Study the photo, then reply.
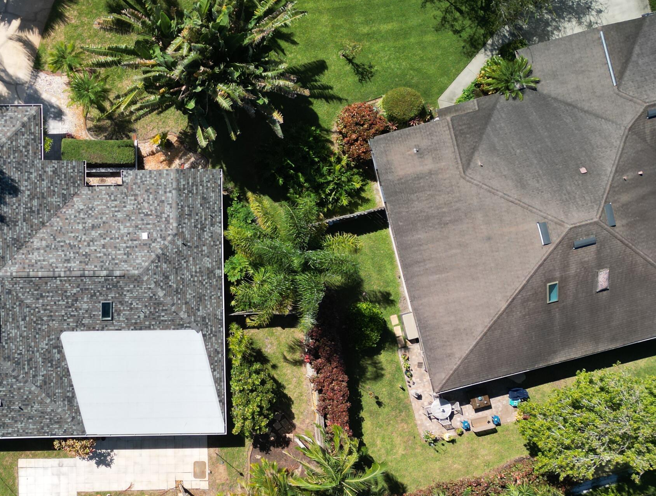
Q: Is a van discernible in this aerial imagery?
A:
No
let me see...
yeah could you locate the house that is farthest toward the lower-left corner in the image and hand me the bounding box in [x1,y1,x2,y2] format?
[0,103,229,440]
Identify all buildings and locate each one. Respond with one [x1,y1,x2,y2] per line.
[0,103,229,440]
[367,9,656,396]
